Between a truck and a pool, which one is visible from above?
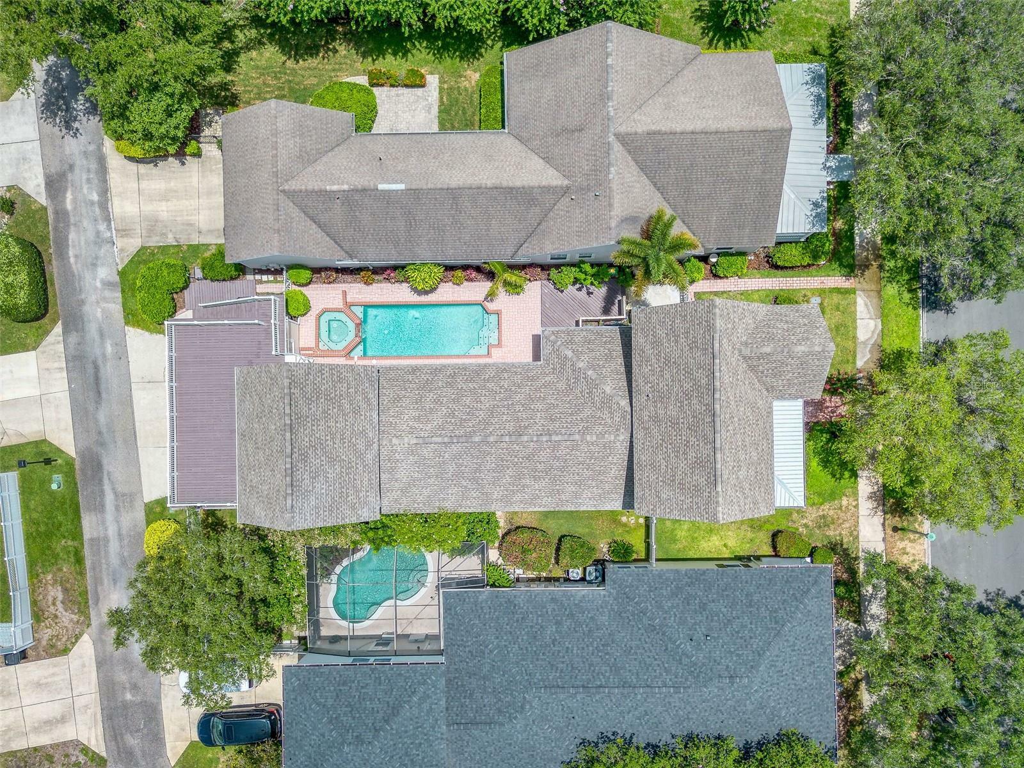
pool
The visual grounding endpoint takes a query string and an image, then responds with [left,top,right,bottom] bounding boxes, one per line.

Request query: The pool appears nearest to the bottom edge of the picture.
[328,544,433,628]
